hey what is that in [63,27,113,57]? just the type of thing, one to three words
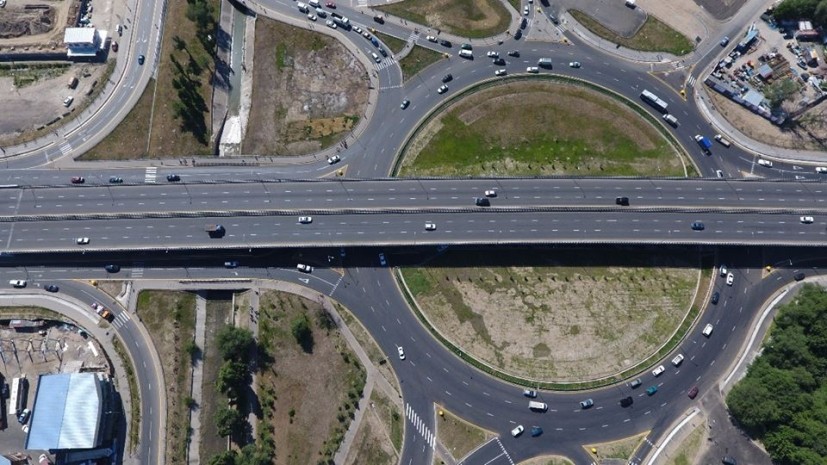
building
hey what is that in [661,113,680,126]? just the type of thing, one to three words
vehicle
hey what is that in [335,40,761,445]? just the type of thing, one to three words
roundabout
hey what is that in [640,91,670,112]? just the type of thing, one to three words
bus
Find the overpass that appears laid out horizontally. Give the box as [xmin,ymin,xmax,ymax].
[0,176,827,253]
